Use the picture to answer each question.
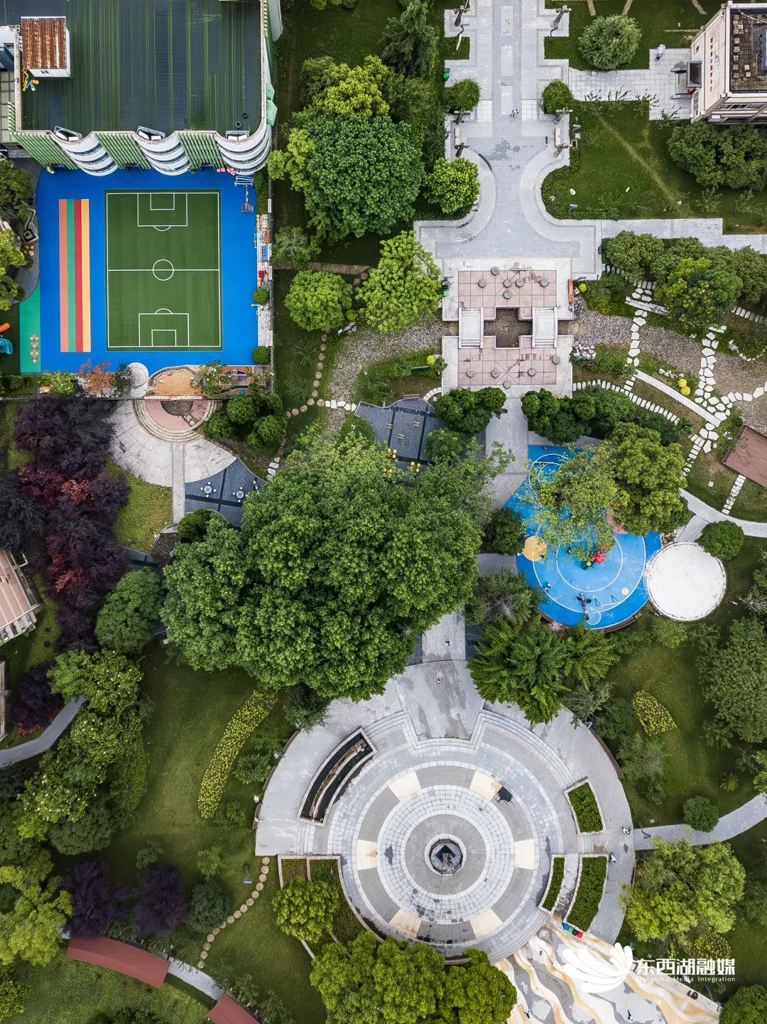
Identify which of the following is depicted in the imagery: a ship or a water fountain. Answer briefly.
water fountain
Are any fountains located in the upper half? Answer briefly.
No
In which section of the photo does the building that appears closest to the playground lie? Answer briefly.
right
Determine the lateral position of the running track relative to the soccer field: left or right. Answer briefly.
on the left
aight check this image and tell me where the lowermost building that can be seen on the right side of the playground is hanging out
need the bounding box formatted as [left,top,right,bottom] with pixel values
[709,425,767,490]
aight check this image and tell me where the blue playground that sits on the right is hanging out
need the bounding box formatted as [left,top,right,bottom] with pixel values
[503,445,661,629]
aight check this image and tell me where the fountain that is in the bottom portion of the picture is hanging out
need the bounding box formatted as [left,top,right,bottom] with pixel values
[425,834,467,877]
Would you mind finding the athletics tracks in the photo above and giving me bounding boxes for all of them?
[58,199,90,352]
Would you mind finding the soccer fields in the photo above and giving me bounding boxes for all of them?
[104,188,223,352]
